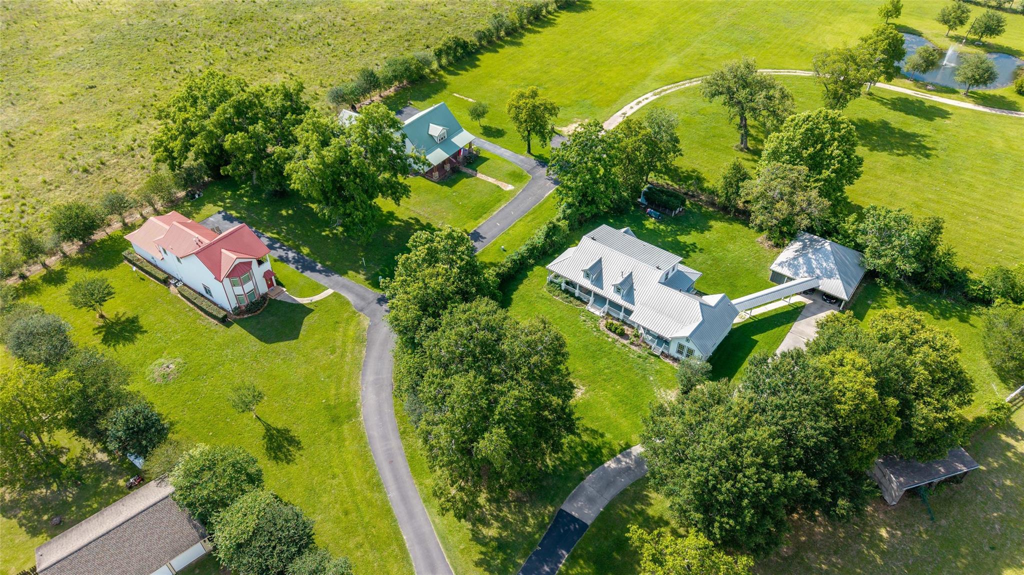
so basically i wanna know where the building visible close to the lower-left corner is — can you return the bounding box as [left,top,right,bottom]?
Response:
[36,466,217,575]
